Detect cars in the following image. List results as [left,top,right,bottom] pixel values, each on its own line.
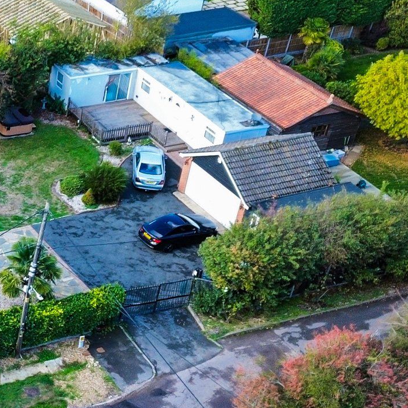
[137,213,215,256]
[129,147,165,190]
